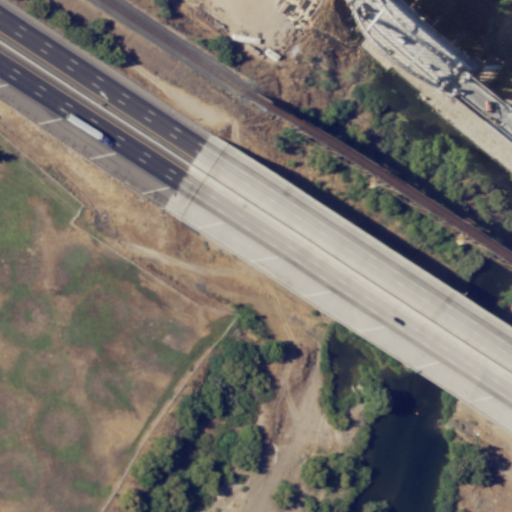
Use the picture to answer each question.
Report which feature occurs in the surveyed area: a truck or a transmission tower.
truck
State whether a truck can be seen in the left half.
Yes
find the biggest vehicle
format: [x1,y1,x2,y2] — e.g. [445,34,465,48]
[66,114,110,146]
